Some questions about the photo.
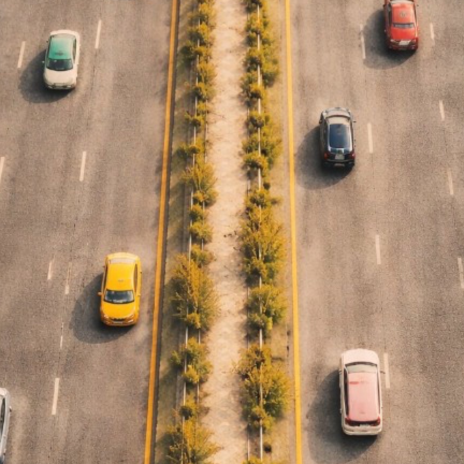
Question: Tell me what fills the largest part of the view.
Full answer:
The bulk of the photo consists of paved ground.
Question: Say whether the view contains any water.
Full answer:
No, the scene doesn't show any water.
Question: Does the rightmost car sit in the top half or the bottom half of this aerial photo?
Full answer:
The rightmost car sits in the top half of the picture.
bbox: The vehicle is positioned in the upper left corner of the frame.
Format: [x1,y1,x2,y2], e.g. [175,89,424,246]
[41,30,79,89]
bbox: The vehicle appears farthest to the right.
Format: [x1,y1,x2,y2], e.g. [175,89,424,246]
[382,0,420,50]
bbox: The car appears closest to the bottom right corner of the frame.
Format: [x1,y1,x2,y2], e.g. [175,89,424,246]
[337,349,385,435]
